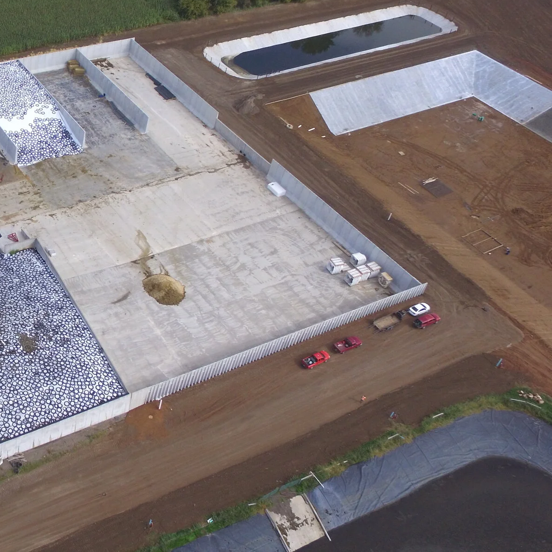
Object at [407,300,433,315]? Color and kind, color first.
white car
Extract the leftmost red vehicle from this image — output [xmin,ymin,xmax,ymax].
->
[300,348,334,367]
